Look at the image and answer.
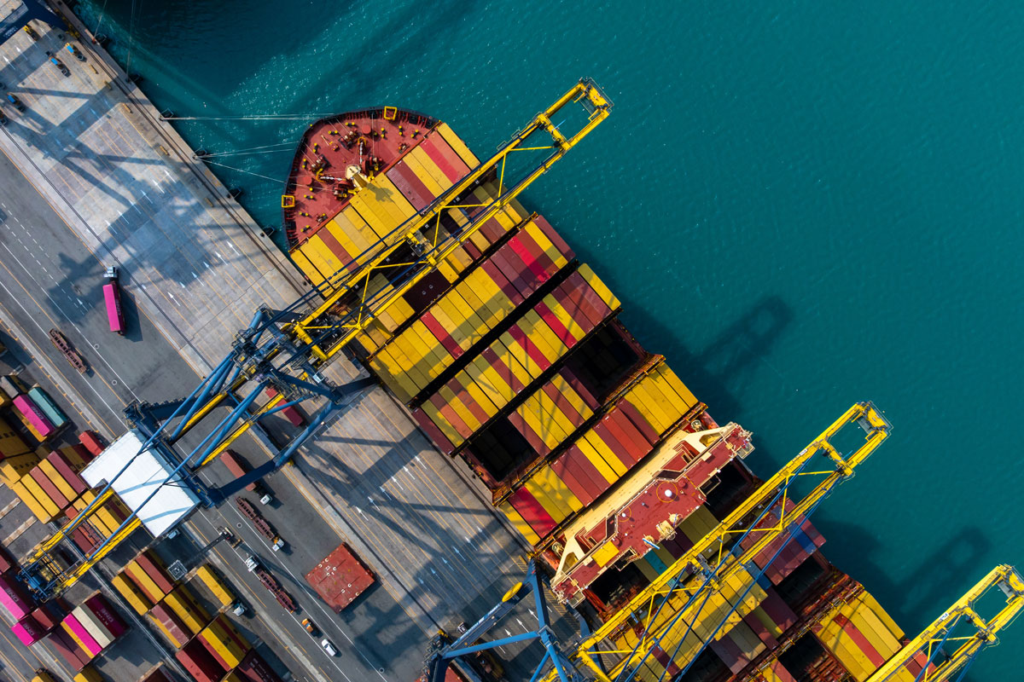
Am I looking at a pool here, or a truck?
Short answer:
truck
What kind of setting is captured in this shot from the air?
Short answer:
port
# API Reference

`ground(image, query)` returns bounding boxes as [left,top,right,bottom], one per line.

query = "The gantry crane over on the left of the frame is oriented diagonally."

[14,77,615,608]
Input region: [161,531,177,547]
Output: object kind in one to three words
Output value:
car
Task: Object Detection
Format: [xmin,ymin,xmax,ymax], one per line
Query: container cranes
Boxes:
[417,398,895,682]
[854,556,1024,682]
[0,0,90,50]
[14,77,615,608]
